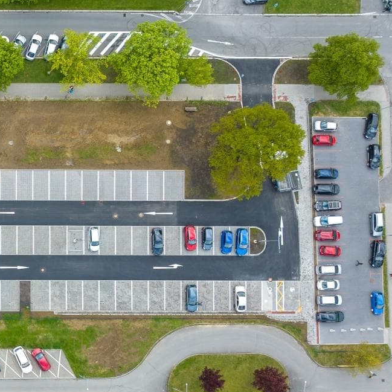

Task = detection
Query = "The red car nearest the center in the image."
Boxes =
[181,224,197,252]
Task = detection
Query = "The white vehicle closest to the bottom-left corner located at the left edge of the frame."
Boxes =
[12,344,32,374]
